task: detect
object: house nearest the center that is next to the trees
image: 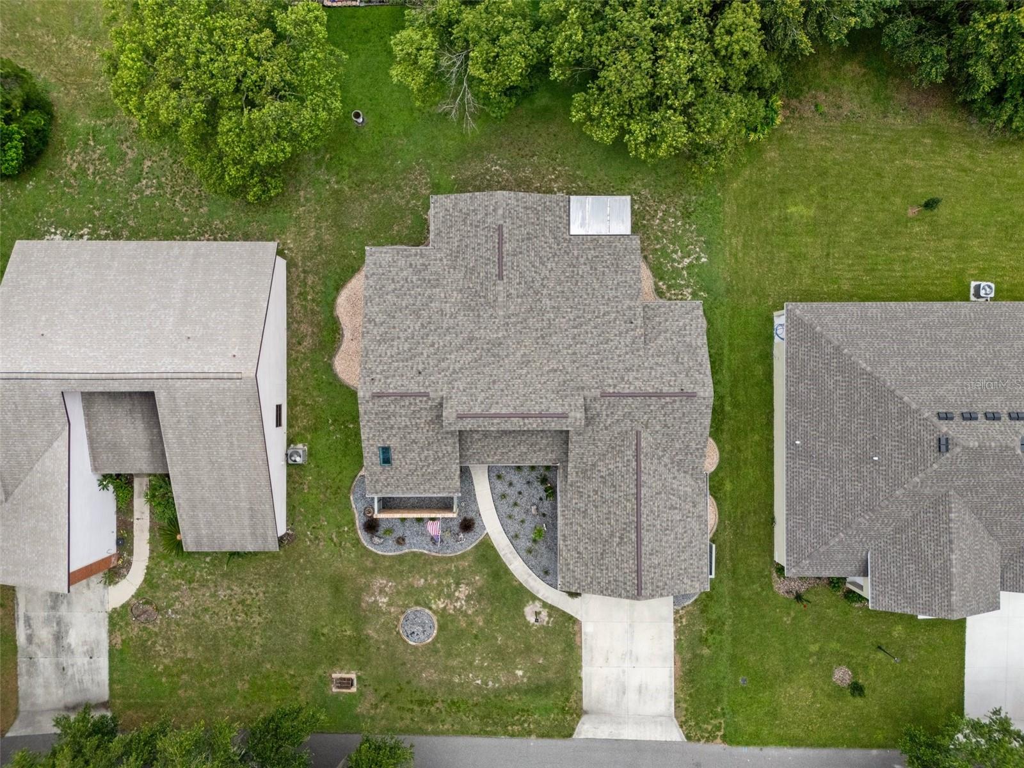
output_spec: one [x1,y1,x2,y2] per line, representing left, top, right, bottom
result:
[357,191,713,599]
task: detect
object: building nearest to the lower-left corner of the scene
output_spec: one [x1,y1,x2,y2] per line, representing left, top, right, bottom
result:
[0,239,288,592]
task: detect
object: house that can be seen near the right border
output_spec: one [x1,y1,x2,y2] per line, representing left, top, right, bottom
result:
[774,301,1024,619]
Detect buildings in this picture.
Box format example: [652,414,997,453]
[0,239,288,592]
[357,191,713,599]
[774,301,1024,619]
